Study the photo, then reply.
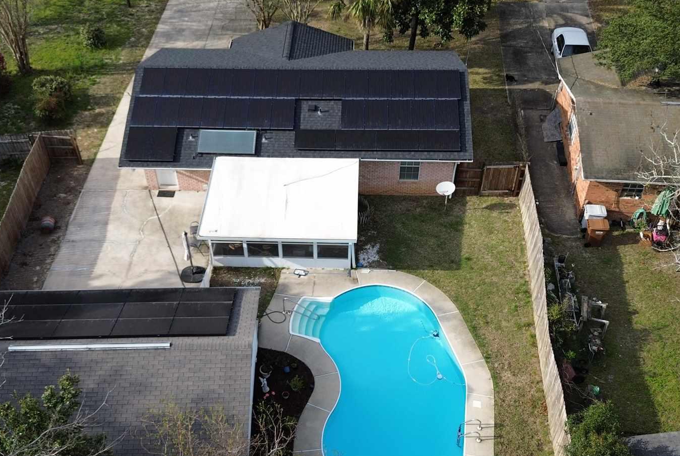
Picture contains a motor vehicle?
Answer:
Yes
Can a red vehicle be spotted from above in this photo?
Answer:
No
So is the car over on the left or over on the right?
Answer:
right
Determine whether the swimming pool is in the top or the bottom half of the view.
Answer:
bottom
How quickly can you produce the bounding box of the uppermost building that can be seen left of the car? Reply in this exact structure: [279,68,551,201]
[121,21,474,199]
